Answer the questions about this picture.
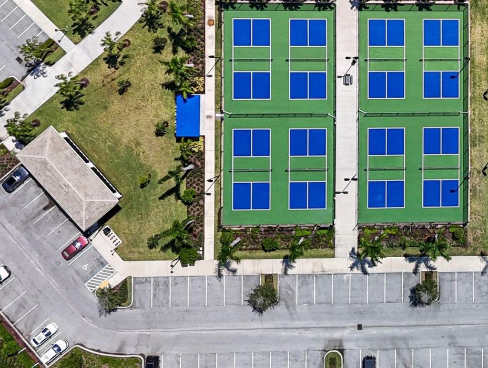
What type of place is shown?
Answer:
sports ground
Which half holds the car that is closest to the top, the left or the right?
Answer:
left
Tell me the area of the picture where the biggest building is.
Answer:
left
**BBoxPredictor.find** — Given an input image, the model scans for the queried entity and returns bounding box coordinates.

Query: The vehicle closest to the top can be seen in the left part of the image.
[0,167,26,193]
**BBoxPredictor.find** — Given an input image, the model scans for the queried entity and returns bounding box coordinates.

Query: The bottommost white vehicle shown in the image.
[36,340,68,367]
